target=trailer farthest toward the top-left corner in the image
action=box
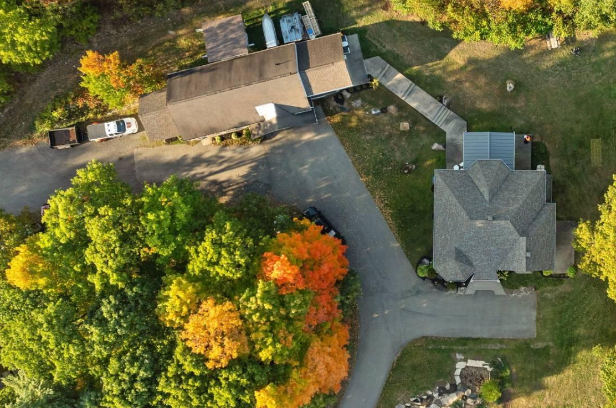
[47,124,88,148]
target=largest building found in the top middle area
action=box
[138,32,353,141]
